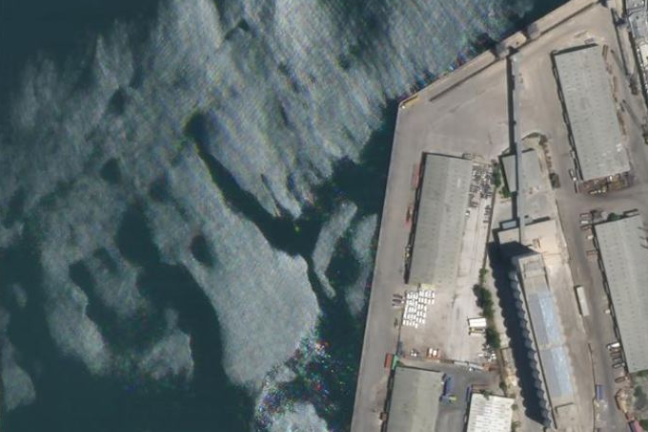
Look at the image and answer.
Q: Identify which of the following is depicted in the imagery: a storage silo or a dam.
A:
storage silo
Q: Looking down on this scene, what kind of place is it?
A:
port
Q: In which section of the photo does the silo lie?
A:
bottom right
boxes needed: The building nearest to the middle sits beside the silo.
[405,153,472,288]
